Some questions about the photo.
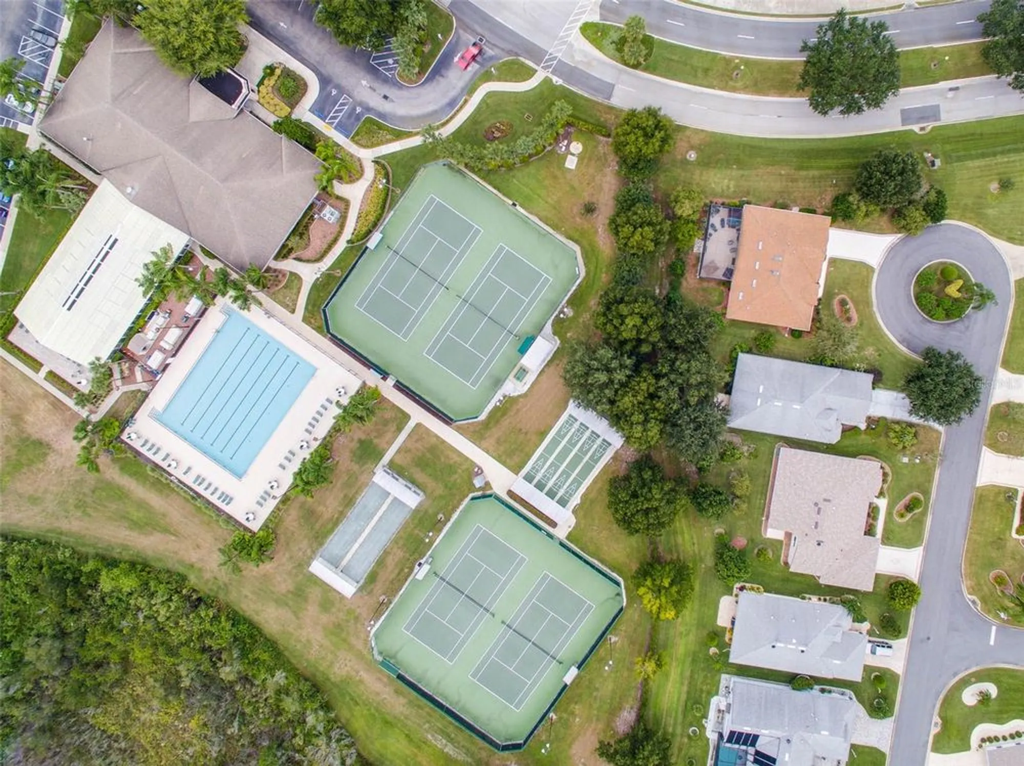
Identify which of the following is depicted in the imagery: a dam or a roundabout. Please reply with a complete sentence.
Of the two, only a roundabout appears.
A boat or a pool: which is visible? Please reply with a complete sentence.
Looking from above, you can make out a pool.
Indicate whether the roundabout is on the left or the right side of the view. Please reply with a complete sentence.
You can find the roundabout on the right side of the picture.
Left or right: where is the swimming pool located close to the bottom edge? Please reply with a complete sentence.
The swimming pool located close to the bottom edge is on the right side of the image.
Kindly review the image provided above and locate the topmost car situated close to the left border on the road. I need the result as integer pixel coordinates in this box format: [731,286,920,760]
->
[25,26,56,47]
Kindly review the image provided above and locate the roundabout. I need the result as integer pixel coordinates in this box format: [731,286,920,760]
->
[910,258,977,323]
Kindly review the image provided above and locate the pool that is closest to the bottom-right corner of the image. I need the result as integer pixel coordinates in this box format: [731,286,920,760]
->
[715,746,740,766]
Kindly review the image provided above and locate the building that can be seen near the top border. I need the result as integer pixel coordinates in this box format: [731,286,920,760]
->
[38,22,321,268]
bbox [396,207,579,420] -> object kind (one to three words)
tennis court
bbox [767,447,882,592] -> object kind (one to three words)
house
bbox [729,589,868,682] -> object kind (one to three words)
house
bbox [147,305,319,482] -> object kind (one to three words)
swimming pool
